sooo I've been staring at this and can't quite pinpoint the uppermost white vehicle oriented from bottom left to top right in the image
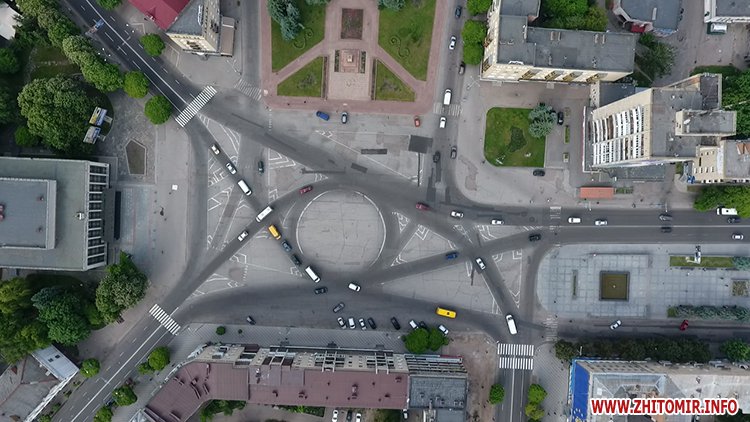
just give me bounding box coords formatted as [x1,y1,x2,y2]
[257,207,272,220]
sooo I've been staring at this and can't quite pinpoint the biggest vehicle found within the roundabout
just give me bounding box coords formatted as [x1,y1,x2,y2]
[305,265,319,281]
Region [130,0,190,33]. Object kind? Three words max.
house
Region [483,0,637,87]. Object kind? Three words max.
building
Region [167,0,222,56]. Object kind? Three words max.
house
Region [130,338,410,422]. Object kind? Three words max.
building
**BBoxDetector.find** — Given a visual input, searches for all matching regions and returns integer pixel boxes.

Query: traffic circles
[285,176,397,288]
